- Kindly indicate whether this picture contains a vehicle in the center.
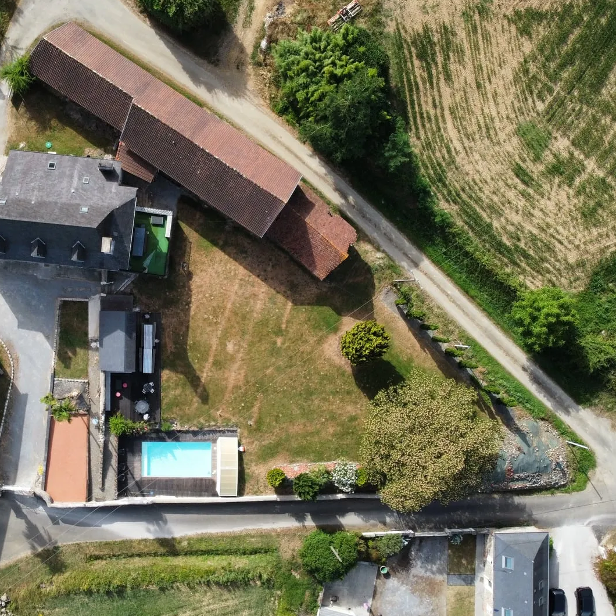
No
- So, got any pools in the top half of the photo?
No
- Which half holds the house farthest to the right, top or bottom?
bottom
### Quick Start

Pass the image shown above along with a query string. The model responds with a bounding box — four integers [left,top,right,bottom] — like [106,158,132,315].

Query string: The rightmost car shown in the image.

[573,585,596,616]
